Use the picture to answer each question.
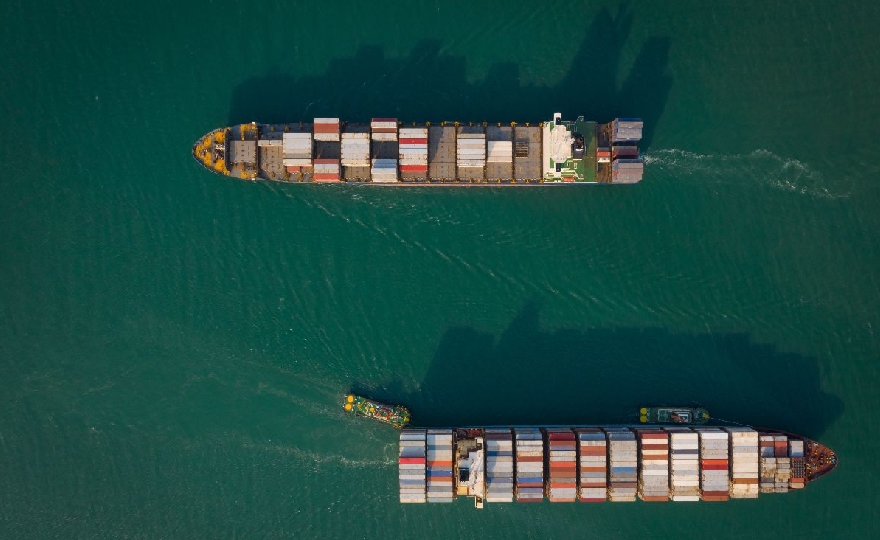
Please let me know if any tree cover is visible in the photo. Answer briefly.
No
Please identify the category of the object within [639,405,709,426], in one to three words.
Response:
boat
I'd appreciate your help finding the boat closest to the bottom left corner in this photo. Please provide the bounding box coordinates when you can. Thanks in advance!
[341,392,412,431]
